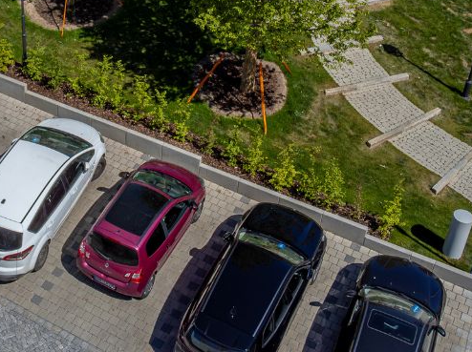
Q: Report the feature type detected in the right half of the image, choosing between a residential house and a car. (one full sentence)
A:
Looking in the right half of the image, you will find a car.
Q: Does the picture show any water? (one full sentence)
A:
No, there is no water in the image.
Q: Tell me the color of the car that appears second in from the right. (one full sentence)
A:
In this view, the car that appears second in from the right is black.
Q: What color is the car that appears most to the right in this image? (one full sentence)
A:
The color of the car that appears most to the right is black.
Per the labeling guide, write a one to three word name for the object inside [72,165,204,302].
car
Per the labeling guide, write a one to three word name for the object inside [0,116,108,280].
car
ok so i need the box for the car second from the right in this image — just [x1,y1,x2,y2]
[172,200,331,352]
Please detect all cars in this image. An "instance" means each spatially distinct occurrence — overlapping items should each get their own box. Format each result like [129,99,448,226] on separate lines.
[315,251,449,352]
[0,116,108,280]
[72,165,204,302]
[172,200,331,352]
